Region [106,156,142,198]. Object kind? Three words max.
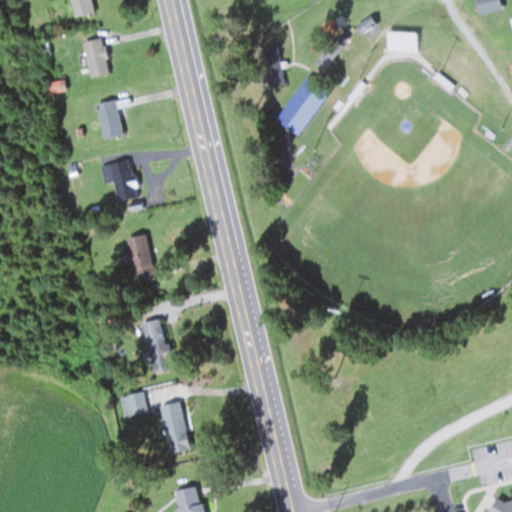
house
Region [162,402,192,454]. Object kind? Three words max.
house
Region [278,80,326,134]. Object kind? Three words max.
building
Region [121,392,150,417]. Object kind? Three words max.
building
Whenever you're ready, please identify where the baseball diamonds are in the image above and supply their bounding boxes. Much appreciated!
[280,60,512,327]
